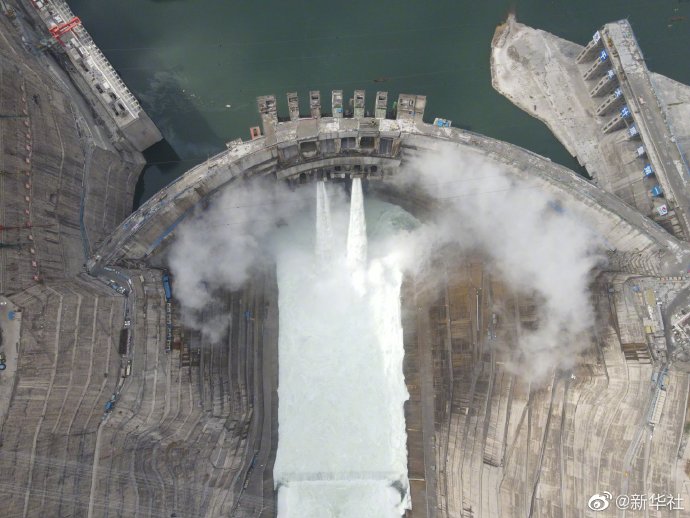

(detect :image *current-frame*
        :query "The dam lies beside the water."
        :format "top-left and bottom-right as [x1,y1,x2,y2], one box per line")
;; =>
[90,92,687,273]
